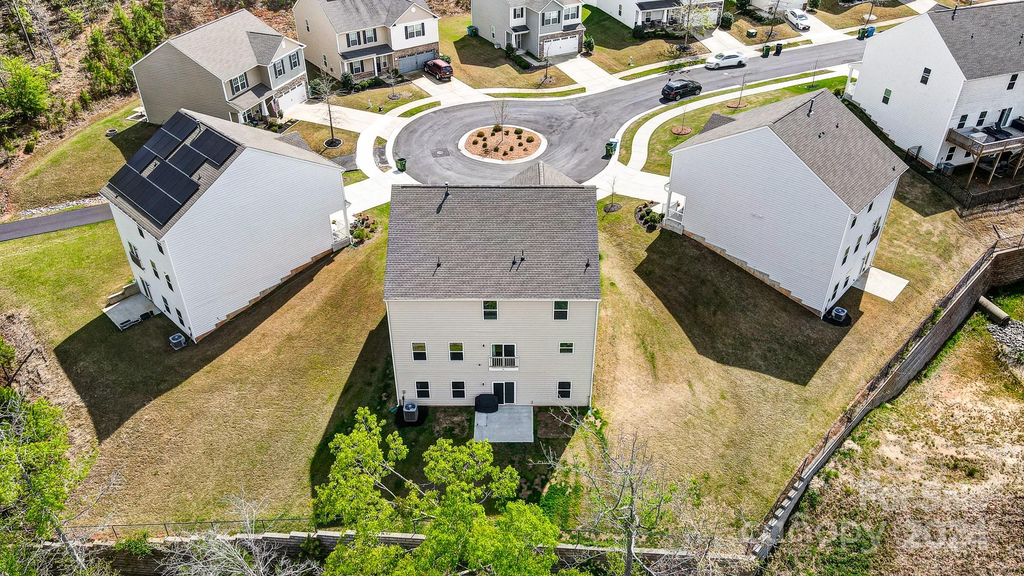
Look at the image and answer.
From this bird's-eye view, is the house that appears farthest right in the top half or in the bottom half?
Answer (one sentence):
The house that appears farthest right is in the top half of the image.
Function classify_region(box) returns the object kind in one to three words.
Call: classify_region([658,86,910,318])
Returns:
house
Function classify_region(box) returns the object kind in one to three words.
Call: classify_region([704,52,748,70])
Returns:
car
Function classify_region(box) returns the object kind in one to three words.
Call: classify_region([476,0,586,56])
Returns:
house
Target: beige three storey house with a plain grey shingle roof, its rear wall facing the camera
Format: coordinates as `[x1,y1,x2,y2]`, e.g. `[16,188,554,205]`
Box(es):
[383,159,602,410]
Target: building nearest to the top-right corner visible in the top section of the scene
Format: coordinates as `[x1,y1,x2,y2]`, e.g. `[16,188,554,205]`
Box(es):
[843,1,1024,187]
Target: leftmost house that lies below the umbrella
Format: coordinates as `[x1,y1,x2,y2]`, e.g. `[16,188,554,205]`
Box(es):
[98,108,356,344]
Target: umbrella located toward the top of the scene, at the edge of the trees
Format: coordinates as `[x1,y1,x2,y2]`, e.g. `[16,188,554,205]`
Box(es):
[122,95,144,118]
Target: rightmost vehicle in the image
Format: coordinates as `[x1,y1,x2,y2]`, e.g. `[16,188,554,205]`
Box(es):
[787,11,810,27]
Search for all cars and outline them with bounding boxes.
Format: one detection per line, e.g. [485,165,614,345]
[704,52,748,70]
[787,11,810,27]
[660,78,704,101]
[424,57,454,77]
